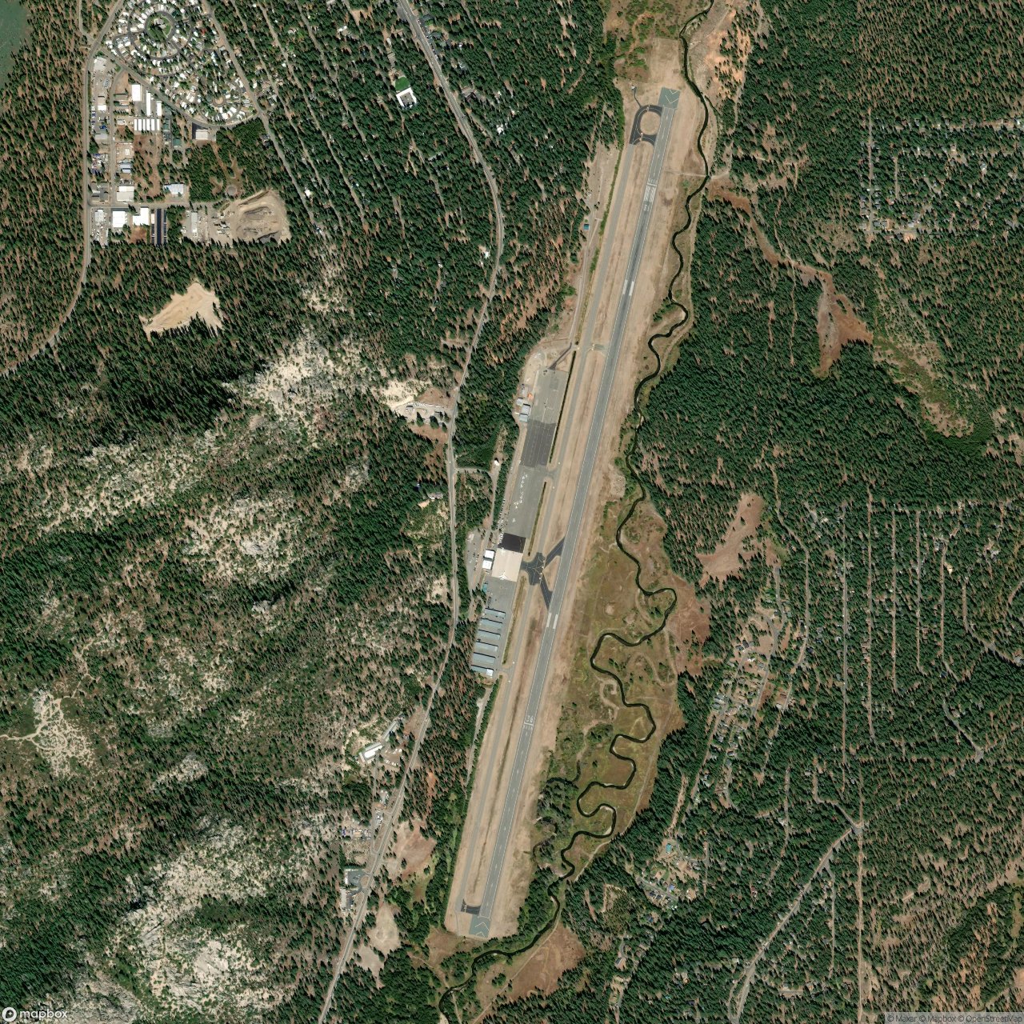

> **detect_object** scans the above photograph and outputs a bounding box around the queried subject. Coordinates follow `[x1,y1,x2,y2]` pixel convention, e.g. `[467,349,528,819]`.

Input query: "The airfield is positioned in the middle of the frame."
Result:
[455,88,681,937]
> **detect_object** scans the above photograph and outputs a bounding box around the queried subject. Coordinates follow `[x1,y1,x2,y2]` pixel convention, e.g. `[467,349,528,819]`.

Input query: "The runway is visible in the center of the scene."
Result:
[479,107,674,918]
